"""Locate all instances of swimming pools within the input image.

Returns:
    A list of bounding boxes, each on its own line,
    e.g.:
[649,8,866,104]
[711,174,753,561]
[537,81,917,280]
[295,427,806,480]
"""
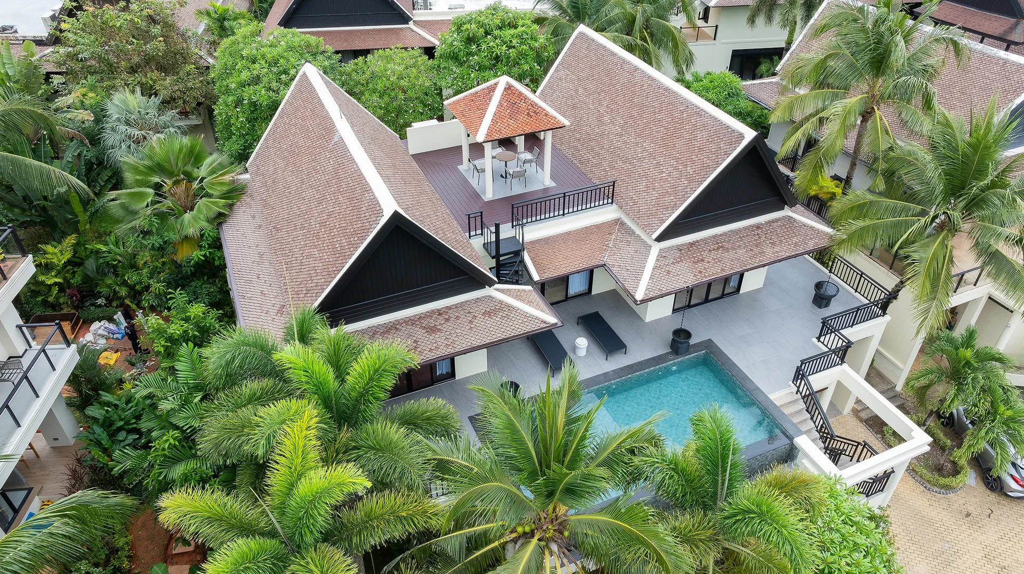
[468,339,804,574]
